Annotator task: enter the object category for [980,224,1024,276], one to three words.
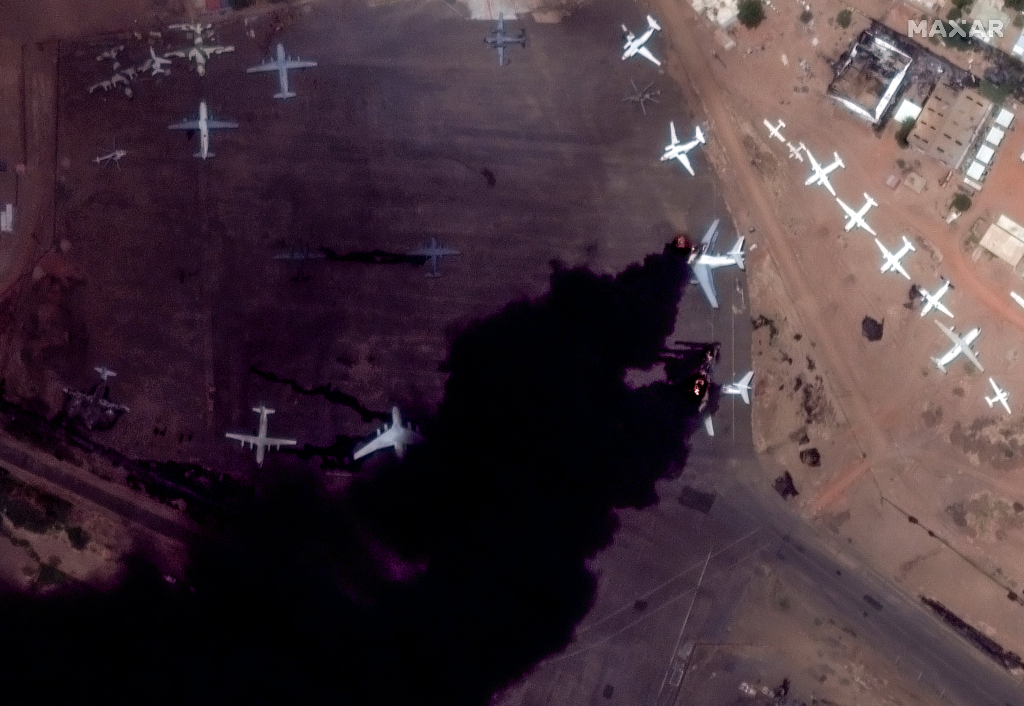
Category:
building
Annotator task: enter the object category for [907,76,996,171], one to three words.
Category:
shed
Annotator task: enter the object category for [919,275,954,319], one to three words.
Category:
airplane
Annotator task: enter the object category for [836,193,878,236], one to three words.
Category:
airplane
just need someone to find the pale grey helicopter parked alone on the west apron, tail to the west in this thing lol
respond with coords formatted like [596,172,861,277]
[92,137,129,171]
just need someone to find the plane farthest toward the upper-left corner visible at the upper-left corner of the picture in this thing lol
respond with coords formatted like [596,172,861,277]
[90,45,153,98]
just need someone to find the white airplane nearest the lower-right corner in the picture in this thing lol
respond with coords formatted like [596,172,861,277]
[985,378,1011,414]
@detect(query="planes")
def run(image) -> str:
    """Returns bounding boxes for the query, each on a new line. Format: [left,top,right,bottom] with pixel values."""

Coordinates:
[661,122,706,176]
[355,407,444,491]
[806,150,846,196]
[165,18,234,76]
[687,220,747,307]
[787,142,806,162]
[273,239,326,281]
[622,14,661,65]
[875,236,916,280]
[985,378,1011,414]
[930,320,985,373]
[408,237,461,276]
[485,13,525,67]
[764,120,785,141]
[169,101,239,159]
[836,193,878,236]
[919,275,954,319]
[247,44,317,99]
[153,53,172,75]
[90,45,153,98]
[226,403,296,466]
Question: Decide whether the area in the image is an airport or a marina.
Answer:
airport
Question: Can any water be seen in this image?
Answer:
No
